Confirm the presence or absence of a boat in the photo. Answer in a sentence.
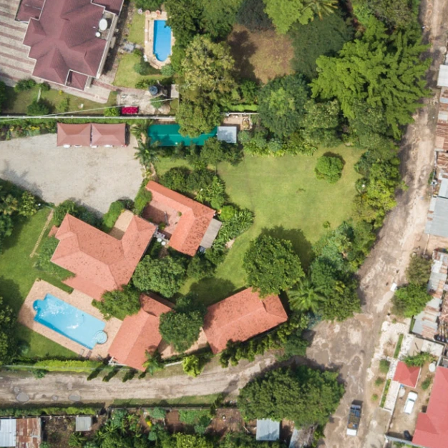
No, the photo shows no boat.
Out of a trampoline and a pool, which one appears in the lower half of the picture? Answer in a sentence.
What appears in the lower half of the picture is a pool.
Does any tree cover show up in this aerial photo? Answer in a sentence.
Yes, tree cover can be seen from above here.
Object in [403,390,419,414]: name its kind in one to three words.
car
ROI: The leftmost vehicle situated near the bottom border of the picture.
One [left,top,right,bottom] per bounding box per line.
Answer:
[345,400,361,434]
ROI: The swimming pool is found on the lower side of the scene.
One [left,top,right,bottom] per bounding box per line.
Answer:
[29,292,108,353]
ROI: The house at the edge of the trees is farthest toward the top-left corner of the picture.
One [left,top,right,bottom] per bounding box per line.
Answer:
[14,0,127,91]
